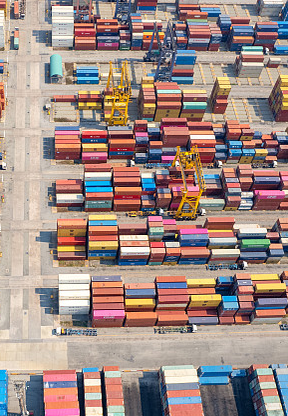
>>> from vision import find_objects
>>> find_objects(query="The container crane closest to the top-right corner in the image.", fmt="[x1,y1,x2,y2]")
[140,25,181,82]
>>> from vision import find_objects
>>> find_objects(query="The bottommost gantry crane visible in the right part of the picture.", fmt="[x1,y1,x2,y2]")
[169,146,214,222]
